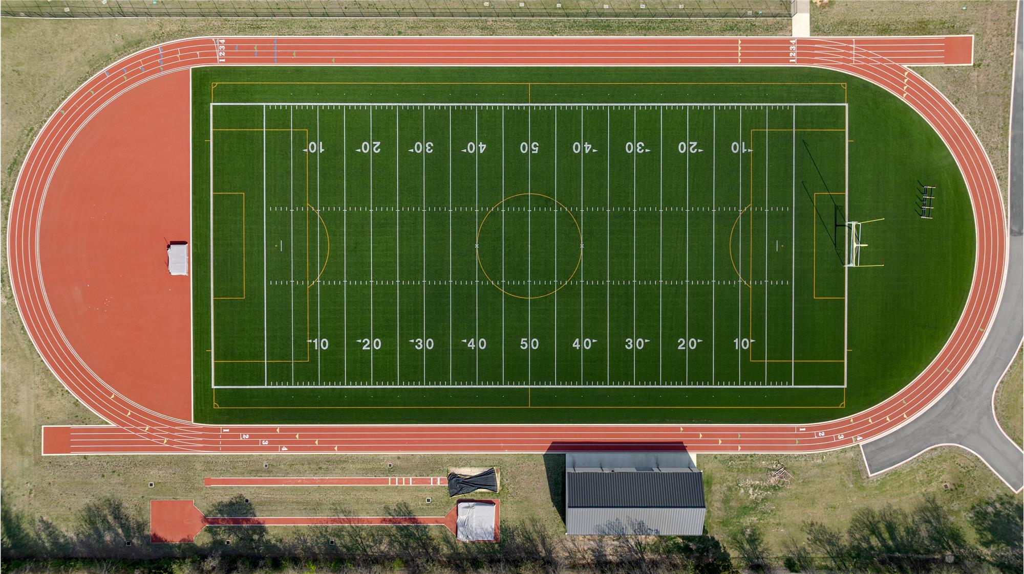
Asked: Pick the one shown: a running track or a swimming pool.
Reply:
running track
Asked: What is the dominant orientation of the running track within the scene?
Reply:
from left to right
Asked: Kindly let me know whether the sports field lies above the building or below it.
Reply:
above it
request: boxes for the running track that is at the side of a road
[8,34,1006,456]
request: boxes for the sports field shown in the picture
[192,66,975,424]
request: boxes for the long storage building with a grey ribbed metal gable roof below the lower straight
[565,465,708,538]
